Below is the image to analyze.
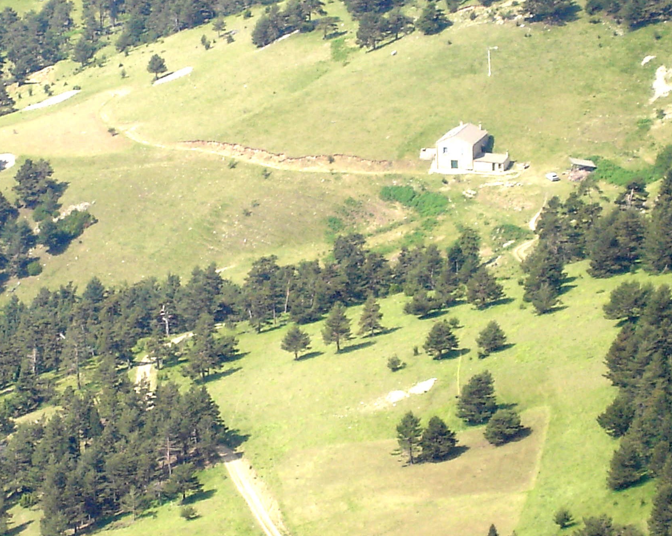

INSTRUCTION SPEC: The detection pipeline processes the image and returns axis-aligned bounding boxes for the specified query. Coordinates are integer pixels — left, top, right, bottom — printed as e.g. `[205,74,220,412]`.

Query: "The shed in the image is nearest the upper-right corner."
[572,156,604,176]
